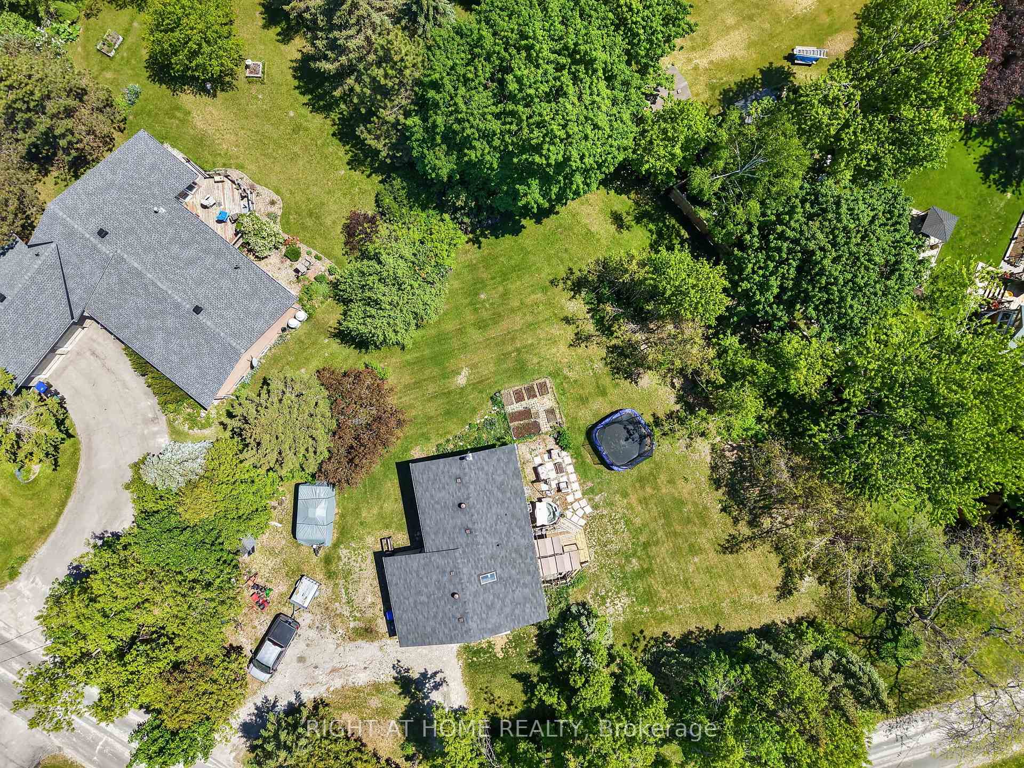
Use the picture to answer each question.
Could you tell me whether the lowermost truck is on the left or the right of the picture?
left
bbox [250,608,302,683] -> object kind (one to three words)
truck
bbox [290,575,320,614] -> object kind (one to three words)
trailer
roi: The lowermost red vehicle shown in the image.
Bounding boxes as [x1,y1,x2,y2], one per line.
[248,588,273,612]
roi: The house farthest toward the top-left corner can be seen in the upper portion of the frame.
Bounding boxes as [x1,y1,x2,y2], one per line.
[0,129,309,412]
